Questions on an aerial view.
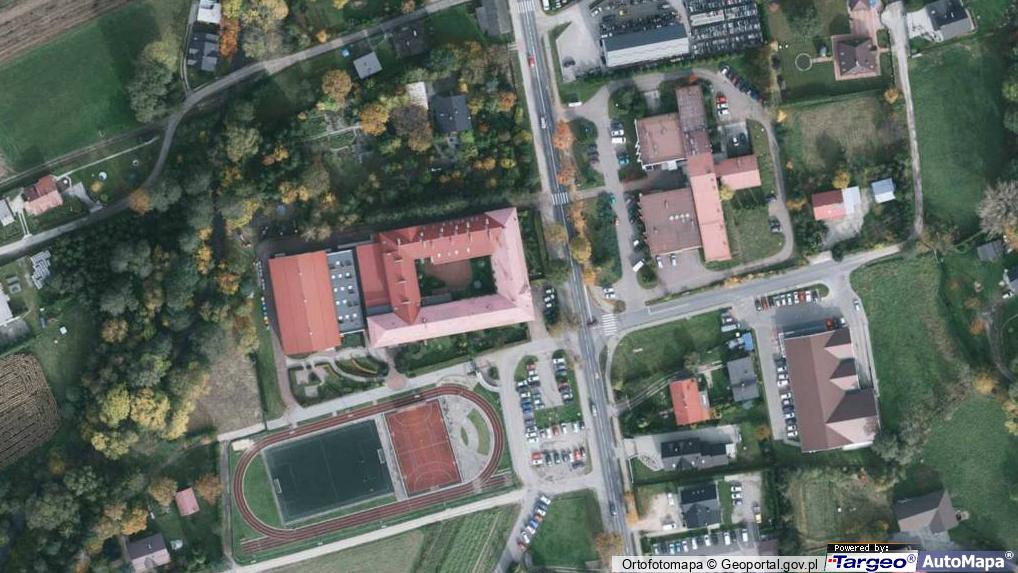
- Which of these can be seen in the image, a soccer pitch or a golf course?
soccer pitch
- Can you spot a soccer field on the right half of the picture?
No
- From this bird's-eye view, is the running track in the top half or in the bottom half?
bottom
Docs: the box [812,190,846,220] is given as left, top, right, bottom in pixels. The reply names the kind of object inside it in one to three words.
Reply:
house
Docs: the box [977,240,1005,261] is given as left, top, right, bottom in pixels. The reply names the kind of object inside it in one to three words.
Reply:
shed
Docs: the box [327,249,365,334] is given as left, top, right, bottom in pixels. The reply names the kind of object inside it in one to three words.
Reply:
building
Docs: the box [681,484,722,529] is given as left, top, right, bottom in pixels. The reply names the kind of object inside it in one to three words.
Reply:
house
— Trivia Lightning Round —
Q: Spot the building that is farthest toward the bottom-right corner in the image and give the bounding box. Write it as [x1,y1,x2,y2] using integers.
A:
[892,489,957,533]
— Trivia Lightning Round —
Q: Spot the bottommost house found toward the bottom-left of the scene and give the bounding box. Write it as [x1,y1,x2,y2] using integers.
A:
[127,533,170,572]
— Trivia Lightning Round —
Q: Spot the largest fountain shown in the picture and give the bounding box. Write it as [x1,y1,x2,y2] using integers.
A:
[795,53,812,71]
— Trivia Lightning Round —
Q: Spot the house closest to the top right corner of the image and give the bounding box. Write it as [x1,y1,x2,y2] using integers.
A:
[926,0,971,41]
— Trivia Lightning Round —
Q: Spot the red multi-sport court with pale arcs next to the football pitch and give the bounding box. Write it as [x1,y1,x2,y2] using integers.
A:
[381,398,462,494]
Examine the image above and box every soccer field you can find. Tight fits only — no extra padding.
[263,422,391,525]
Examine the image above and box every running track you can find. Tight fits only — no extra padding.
[233,382,512,551]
